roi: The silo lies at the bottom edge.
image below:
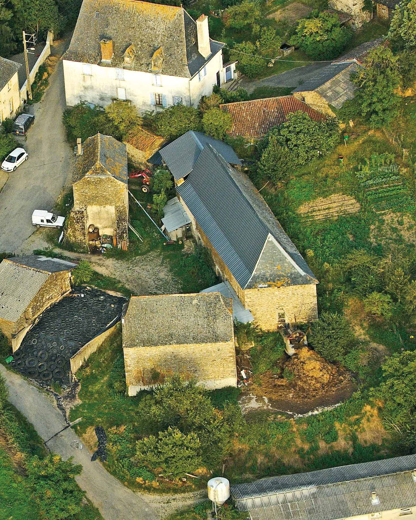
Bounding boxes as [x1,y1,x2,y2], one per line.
[205,471,232,520]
